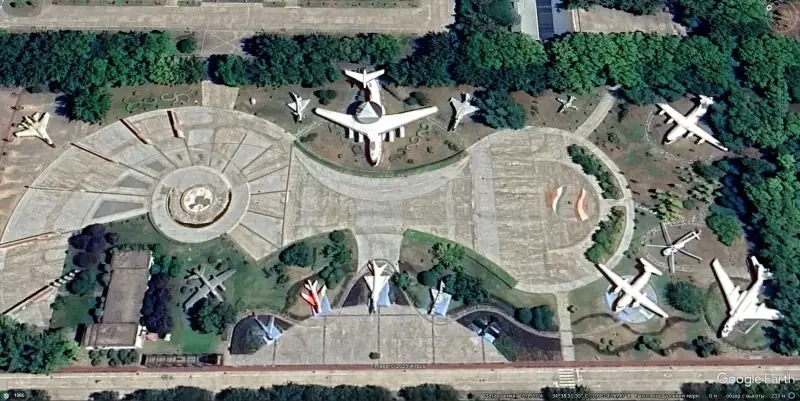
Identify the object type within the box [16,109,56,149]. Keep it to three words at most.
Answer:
airplane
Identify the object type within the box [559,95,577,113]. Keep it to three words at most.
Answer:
airplane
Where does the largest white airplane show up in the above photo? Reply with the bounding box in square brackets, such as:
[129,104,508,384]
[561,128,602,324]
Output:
[310,68,433,166]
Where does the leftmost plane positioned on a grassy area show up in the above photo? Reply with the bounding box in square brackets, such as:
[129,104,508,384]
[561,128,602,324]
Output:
[188,266,236,311]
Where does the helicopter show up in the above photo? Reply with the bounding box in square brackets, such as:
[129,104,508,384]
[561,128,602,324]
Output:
[645,222,700,274]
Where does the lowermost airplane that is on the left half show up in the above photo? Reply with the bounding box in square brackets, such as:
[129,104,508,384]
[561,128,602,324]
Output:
[252,312,274,338]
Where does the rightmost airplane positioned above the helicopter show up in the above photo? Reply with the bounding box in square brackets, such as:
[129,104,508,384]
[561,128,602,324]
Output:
[652,89,720,152]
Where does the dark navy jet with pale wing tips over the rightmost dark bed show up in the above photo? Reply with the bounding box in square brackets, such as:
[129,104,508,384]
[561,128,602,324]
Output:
[477,316,499,340]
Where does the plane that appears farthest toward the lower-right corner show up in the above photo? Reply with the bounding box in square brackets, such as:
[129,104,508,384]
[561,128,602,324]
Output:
[712,256,786,337]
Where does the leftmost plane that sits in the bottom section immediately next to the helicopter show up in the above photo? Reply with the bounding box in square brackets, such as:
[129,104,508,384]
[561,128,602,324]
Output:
[598,257,664,320]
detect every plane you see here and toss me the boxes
[652,89,720,152]
[559,95,577,113]
[301,281,325,313]
[430,280,450,314]
[310,68,433,166]
[450,95,478,135]
[252,312,274,338]
[360,260,387,312]
[598,257,664,320]
[712,256,786,337]
[285,92,309,124]
[477,316,499,340]
[188,266,236,311]
[16,109,56,149]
